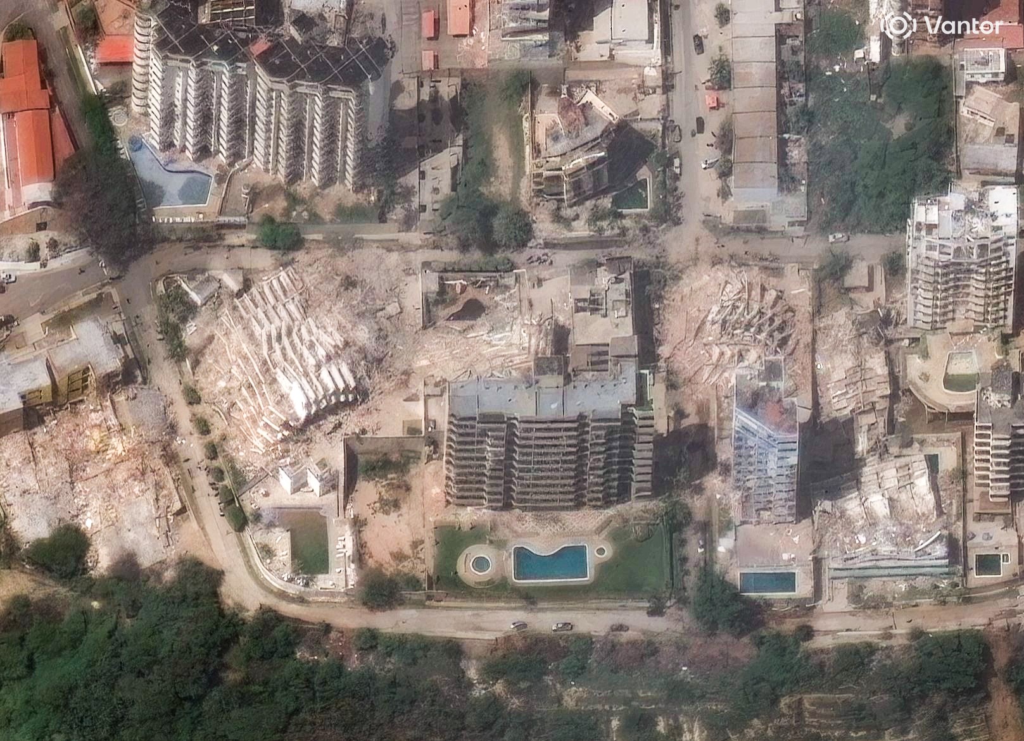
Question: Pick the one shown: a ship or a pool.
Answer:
pool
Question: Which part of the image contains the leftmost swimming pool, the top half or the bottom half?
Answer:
top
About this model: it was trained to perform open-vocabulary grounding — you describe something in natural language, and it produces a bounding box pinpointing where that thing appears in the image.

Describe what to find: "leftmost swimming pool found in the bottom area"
[291,521,329,575]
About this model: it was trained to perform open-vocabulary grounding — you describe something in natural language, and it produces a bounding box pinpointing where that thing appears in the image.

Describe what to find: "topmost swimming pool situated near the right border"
[943,350,980,392]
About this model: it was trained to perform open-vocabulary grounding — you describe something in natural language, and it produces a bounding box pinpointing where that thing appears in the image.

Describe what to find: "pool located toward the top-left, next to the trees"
[129,137,213,208]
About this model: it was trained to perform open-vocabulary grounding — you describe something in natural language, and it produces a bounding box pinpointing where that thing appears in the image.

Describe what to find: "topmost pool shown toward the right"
[606,176,649,208]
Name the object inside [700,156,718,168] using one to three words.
vehicle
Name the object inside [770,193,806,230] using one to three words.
building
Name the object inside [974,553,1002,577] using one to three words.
swimming pool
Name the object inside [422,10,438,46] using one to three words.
shed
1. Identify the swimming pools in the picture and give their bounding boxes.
[943,350,980,392]
[469,552,493,575]
[511,544,590,582]
[974,553,1002,577]
[129,137,213,208]
[291,521,329,575]
[606,176,649,208]
[595,546,606,558]
[1002,553,1010,564]
[739,571,797,594]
